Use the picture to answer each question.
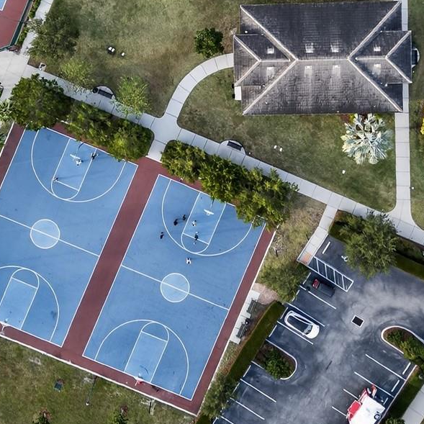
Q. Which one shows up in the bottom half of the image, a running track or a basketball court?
basketball court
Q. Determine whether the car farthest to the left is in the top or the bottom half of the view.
bottom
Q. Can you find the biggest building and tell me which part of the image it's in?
top right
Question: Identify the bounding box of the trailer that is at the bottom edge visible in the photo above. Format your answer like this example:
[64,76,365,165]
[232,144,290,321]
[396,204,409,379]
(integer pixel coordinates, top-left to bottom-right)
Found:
[346,389,386,424]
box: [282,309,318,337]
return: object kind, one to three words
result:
car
